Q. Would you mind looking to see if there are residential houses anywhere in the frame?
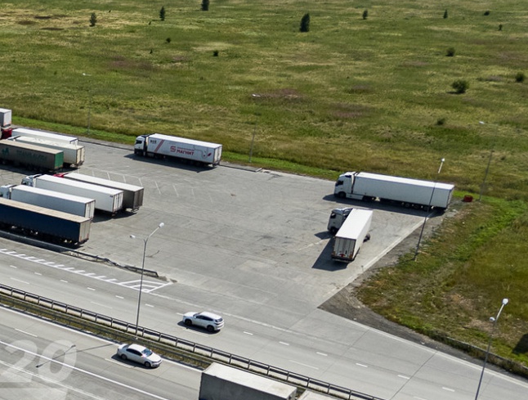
No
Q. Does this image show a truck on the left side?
Yes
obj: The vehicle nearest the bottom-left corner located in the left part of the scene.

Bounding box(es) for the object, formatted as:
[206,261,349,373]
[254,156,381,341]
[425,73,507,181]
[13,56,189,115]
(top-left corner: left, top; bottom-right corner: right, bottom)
[119,341,165,365]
